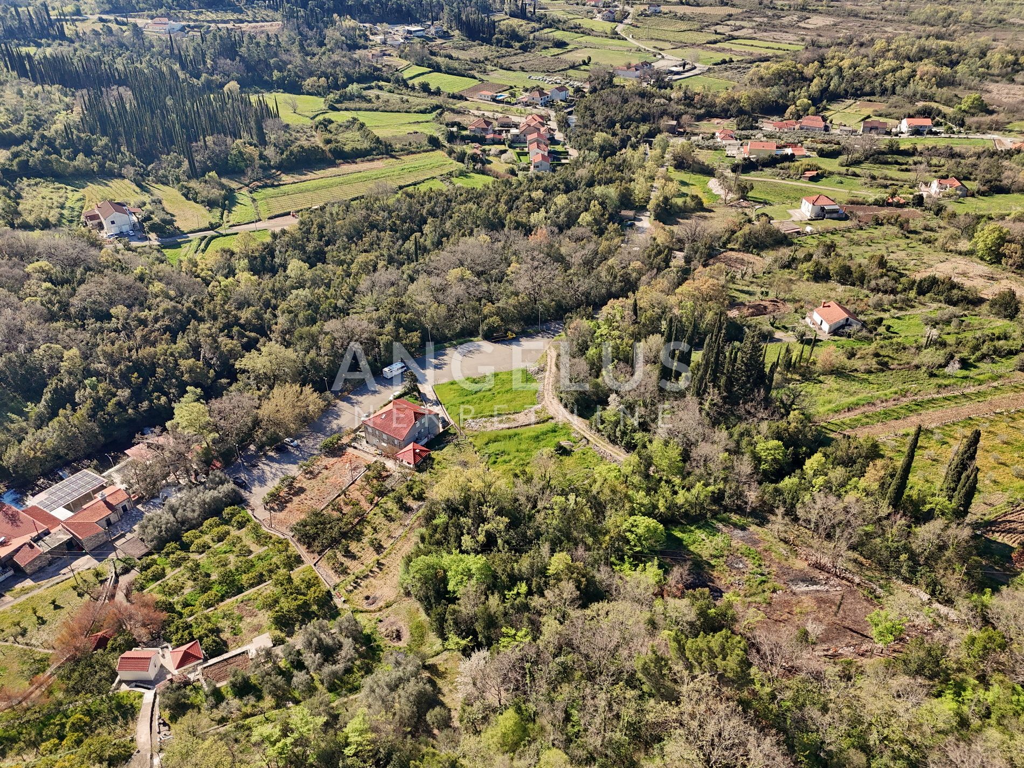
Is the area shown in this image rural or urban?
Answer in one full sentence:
This place is rural.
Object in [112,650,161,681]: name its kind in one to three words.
shed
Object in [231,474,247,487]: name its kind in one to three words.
vehicle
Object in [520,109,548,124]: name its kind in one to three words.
house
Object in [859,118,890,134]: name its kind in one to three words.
house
